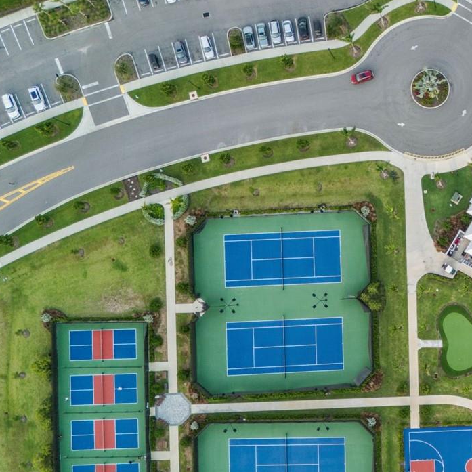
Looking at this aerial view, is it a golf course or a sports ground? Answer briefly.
sports ground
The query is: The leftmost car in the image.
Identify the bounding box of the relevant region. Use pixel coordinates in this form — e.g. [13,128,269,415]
[0,92,19,119]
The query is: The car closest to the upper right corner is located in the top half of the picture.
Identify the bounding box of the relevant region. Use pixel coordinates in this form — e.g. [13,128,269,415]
[349,68,374,84]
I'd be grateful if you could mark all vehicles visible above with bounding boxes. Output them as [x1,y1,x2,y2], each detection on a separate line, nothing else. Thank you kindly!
[146,51,160,70]
[25,84,46,111]
[280,17,294,42]
[241,24,255,51]
[295,14,309,40]
[268,17,283,44]
[171,37,188,63]
[349,68,374,84]
[254,19,269,48]
[310,15,322,38]
[0,92,19,119]
[197,33,214,60]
